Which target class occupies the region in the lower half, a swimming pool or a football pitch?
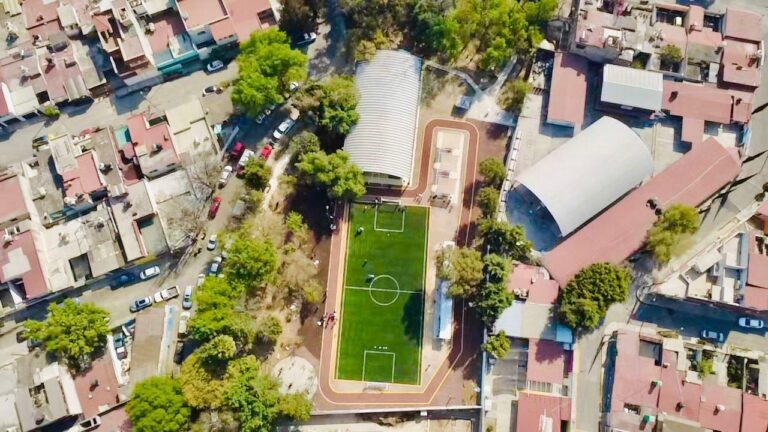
football pitch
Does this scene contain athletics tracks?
Yes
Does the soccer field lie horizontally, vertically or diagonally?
vertically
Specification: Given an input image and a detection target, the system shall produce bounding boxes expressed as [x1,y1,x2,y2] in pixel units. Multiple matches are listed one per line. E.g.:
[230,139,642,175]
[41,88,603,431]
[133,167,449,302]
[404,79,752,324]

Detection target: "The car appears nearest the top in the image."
[295,32,316,45]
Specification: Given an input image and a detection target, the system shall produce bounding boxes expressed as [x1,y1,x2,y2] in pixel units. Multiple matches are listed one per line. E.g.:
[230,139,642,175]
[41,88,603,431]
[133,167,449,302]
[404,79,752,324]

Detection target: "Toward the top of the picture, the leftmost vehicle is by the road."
[30,136,50,148]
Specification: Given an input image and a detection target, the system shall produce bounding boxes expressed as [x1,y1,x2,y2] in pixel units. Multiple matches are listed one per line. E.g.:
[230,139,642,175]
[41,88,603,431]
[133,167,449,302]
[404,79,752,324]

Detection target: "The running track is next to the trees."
[320,118,479,404]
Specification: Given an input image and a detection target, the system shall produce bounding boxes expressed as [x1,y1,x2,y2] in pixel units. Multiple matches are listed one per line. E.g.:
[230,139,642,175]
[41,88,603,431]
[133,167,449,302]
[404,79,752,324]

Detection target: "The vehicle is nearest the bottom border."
[64,412,100,432]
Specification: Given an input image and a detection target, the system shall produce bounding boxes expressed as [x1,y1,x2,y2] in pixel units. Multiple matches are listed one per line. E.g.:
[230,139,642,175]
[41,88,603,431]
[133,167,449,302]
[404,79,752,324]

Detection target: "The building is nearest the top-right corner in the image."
[714,9,763,45]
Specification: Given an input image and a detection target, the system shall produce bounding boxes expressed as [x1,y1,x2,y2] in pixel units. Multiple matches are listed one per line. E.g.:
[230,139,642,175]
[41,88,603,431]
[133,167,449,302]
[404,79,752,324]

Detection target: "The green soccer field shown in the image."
[333,203,430,387]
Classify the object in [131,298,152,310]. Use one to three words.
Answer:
vehicle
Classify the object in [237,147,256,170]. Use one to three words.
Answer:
vehicle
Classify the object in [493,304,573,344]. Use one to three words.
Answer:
house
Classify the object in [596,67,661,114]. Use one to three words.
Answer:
building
